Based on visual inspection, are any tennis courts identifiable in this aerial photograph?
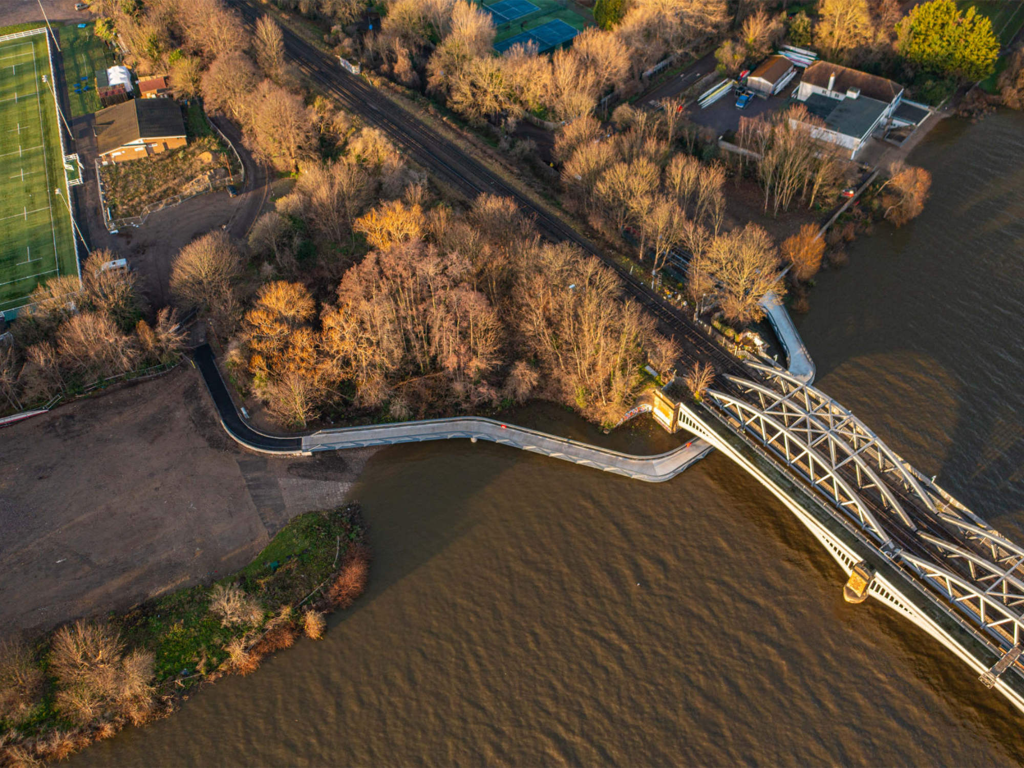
Yes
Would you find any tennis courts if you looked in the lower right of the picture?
No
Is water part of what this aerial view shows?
Yes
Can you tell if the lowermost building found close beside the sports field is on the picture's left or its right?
left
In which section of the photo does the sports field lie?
top left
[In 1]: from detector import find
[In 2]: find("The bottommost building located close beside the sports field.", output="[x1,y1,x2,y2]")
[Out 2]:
[91,98,187,168]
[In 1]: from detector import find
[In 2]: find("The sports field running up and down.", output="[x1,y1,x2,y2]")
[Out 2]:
[0,37,85,325]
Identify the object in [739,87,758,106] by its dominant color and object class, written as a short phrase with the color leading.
blue vehicle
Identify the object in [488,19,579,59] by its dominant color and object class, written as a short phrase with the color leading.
blue tennis court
